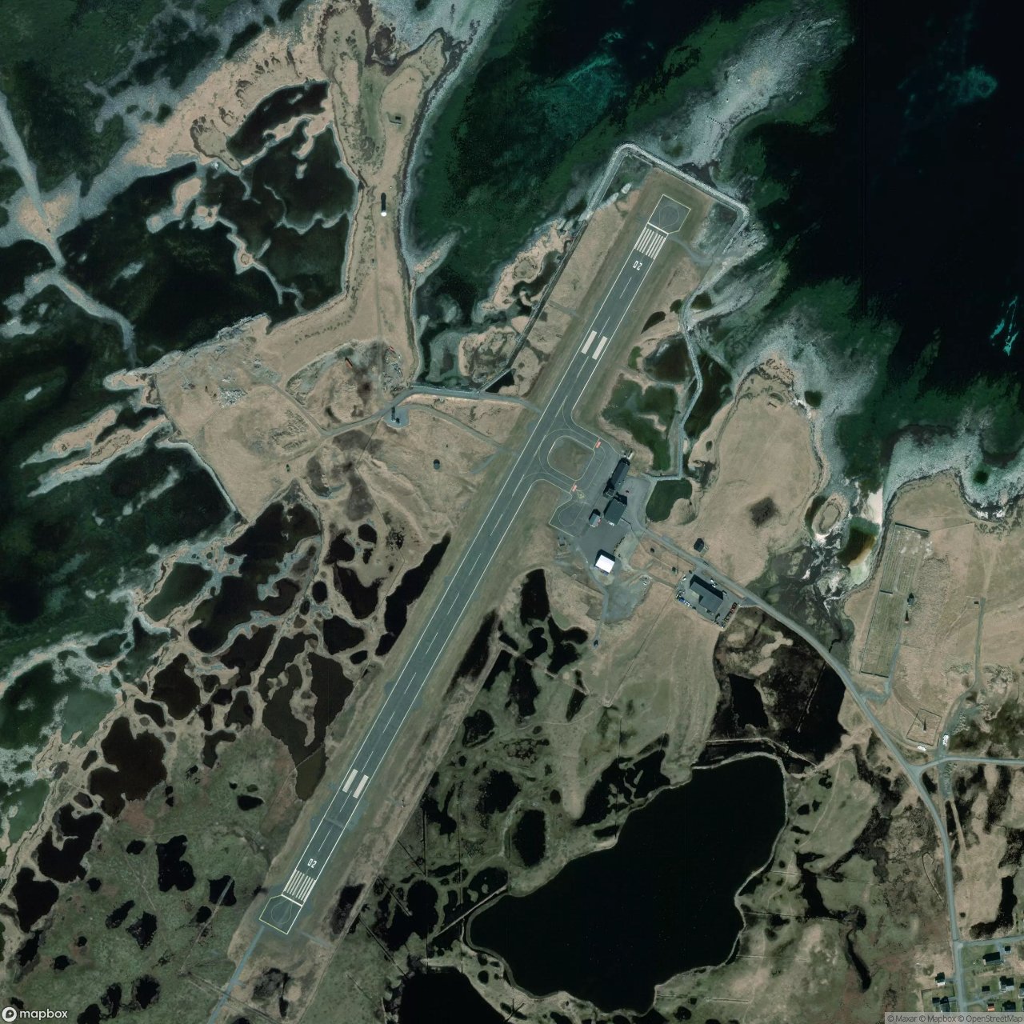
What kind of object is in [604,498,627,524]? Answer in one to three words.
hangar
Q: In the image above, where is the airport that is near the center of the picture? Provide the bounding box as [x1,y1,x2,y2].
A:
[259,194,691,935]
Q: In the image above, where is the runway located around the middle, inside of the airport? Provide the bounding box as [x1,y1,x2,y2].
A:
[259,194,691,935]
